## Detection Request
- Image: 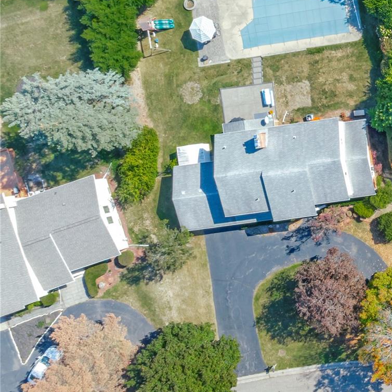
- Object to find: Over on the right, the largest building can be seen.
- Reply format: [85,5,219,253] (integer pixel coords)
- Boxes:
[172,115,378,232]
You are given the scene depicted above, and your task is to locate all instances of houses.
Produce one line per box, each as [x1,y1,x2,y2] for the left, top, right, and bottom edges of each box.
[0,164,147,316]
[172,115,378,232]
